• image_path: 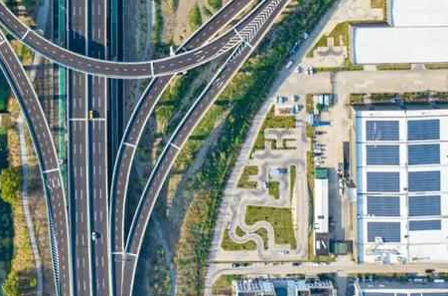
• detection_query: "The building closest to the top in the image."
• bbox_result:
[350,0,448,64]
